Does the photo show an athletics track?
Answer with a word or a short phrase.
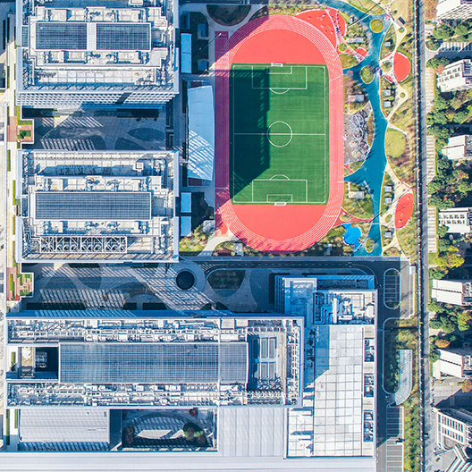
Yes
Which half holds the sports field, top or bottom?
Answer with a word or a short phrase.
top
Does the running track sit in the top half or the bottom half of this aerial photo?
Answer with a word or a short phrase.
top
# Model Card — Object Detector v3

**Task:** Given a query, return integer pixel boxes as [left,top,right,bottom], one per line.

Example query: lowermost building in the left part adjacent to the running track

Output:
[6,309,303,408]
